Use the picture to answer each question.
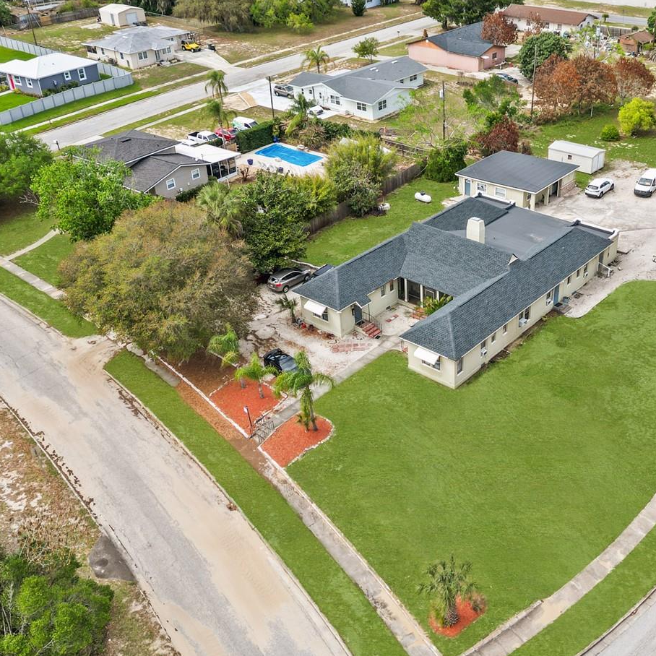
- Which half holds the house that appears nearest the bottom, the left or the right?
right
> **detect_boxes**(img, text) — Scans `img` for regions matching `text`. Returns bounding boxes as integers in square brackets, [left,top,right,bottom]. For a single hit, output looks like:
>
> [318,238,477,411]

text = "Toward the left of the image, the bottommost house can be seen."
[68,123,253,200]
